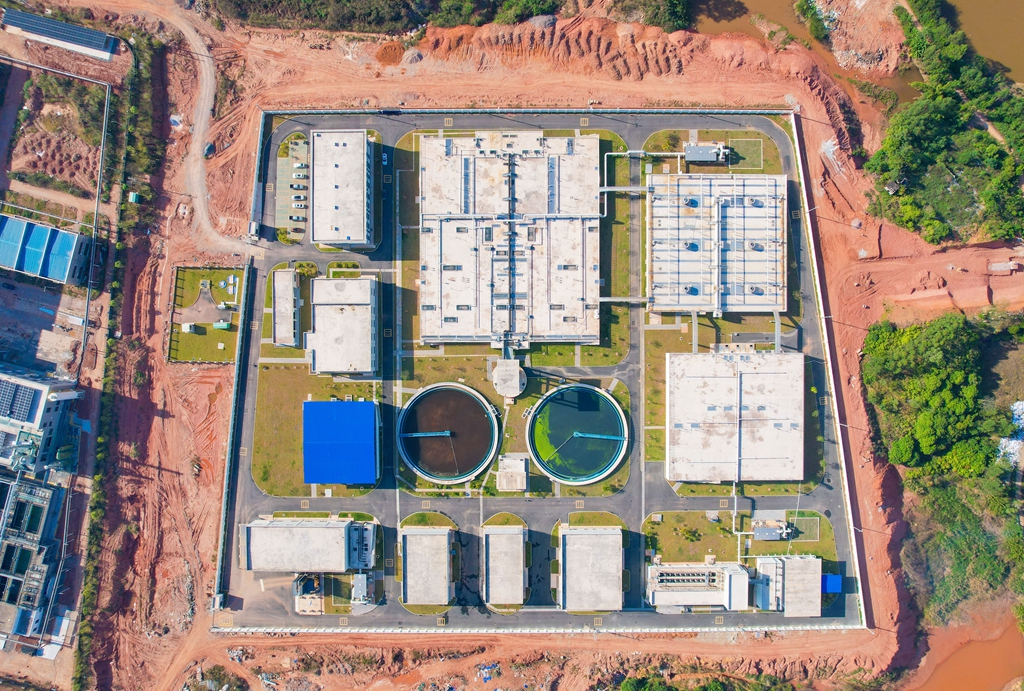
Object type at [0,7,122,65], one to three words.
shed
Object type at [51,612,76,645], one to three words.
shed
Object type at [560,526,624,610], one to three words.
building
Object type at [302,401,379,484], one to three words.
building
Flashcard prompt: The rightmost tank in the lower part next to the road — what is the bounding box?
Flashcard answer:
[526,383,628,485]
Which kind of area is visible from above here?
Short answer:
industrial area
